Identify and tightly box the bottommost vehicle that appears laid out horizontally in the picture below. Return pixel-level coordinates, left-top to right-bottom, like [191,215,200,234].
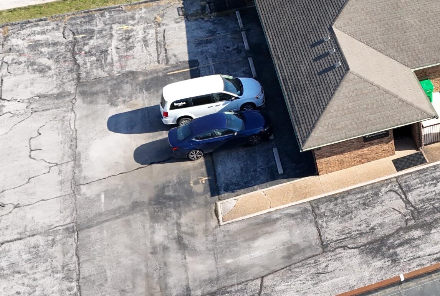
[162,106,275,161]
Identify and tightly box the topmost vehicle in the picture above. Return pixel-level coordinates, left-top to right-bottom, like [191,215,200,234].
[154,69,267,125]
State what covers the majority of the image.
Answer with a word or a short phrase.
paved ground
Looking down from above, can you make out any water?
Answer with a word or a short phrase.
No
